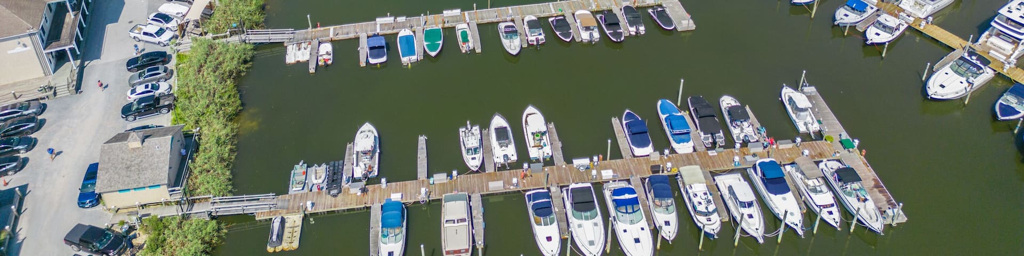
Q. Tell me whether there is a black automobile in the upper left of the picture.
Yes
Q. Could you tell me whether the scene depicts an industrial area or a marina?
marina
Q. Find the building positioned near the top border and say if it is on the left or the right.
left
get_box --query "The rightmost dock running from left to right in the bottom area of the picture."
[255,141,843,222]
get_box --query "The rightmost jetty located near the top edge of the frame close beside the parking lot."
[283,0,668,47]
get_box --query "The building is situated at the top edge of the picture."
[0,0,94,87]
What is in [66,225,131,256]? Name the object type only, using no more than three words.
truck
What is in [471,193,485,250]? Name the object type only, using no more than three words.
pier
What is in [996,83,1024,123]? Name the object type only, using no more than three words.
boat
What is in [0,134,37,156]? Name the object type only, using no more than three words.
car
